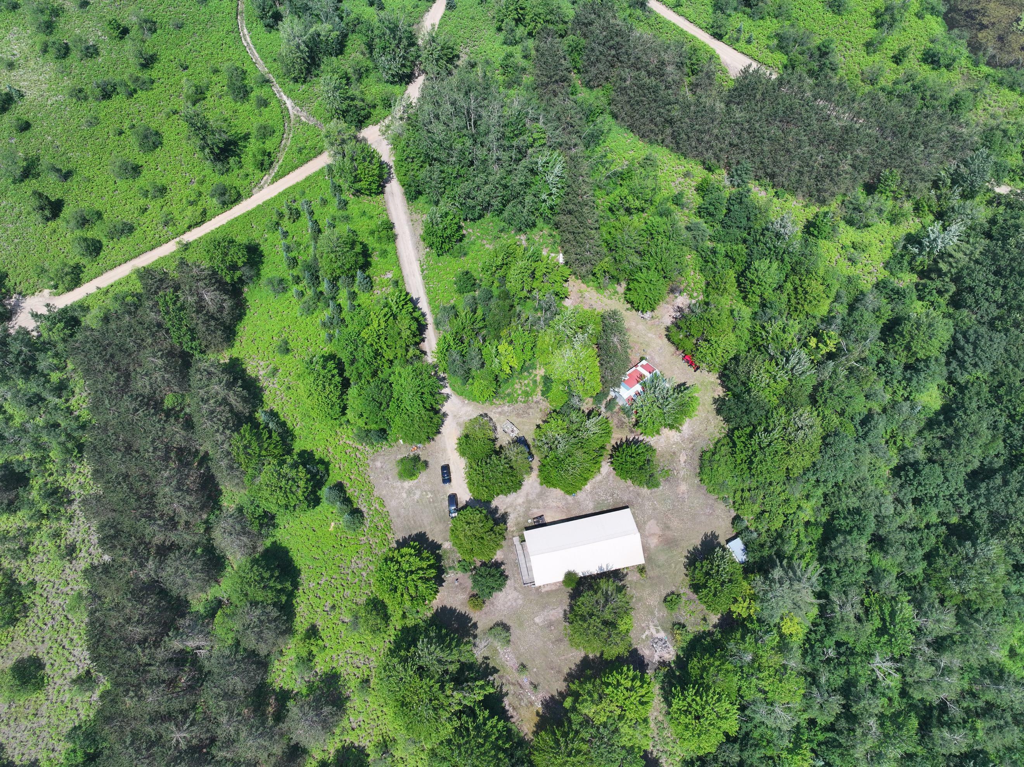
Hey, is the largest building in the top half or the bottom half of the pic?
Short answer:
bottom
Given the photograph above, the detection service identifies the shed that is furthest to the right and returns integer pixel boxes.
[727,537,751,563]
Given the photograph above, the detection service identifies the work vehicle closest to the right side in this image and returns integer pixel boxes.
[677,354,698,373]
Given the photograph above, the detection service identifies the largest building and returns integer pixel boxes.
[523,508,645,587]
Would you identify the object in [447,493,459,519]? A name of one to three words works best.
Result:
vehicle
